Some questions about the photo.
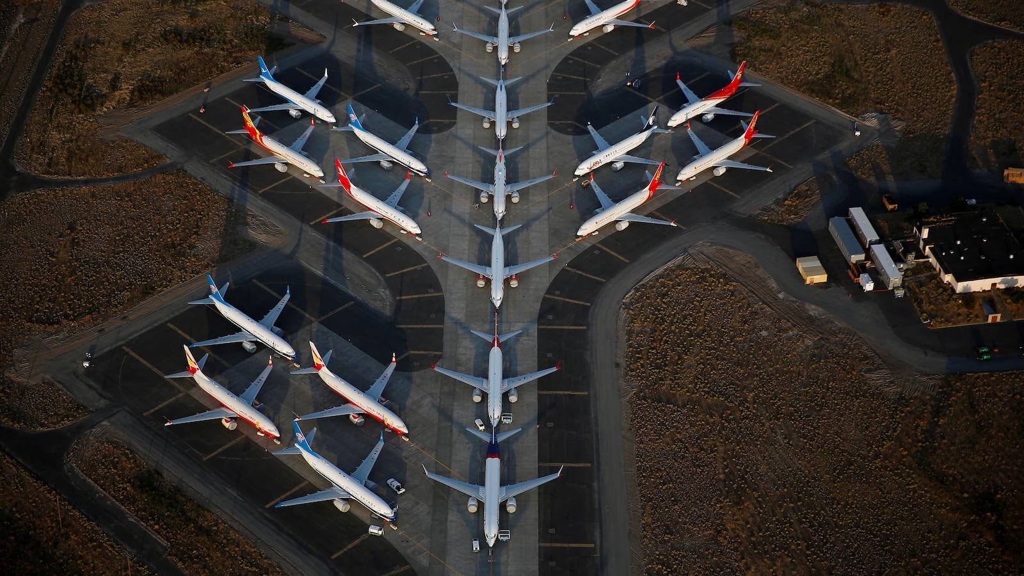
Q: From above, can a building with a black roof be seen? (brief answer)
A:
Yes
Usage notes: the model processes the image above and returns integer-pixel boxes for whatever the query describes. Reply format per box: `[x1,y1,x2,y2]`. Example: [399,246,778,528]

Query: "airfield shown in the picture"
[75,0,840,576]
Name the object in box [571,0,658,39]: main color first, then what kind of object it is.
white airplane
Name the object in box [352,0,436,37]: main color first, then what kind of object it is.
white airplane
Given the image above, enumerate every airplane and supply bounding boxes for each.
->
[677,110,775,183]
[448,60,555,144]
[243,55,335,125]
[318,158,421,236]
[575,105,674,178]
[443,129,557,221]
[430,316,561,427]
[188,273,296,362]
[453,0,554,66]
[571,0,658,39]
[331,103,428,177]
[577,160,680,238]
[668,60,761,129]
[226,106,323,179]
[291,341,407,436]
[164,345,279,440]
[422,409,563,546]
[272,419,395,523]
[437,207,558,308]
[352,0,436,37]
